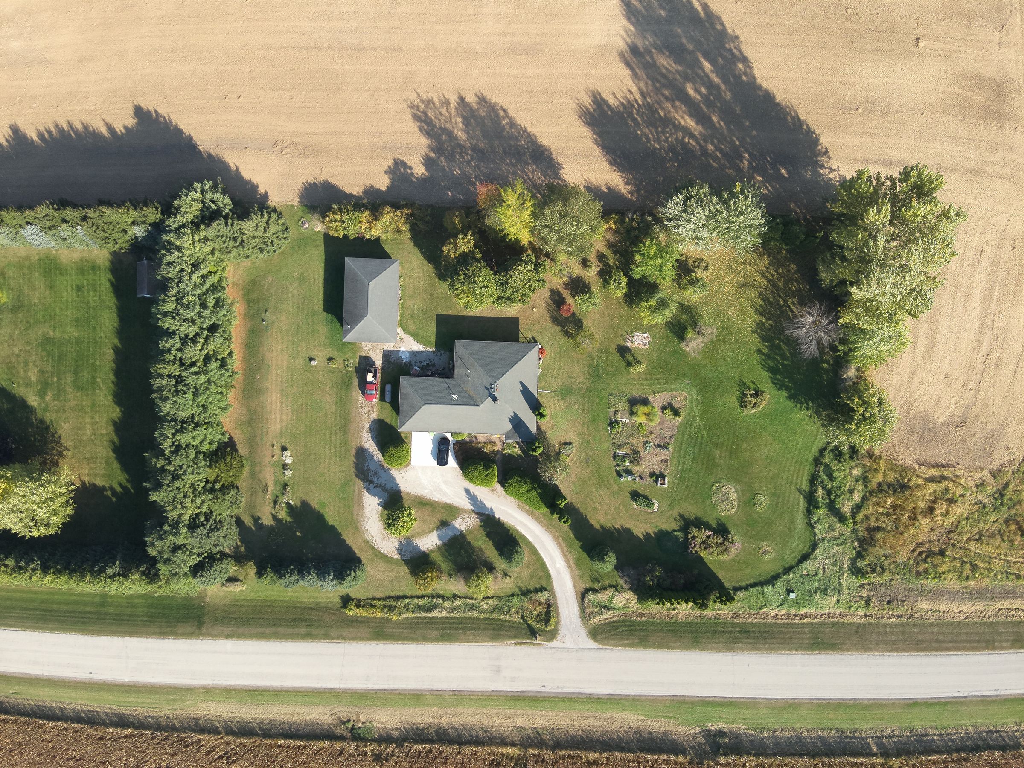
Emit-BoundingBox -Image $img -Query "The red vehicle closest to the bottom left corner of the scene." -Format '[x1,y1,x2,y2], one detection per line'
[364,366,379,403]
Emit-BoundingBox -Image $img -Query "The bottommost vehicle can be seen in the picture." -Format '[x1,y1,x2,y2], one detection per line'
[436,437,450,467]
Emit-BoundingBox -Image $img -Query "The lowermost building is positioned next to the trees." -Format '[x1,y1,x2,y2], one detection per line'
[398,340,551,443]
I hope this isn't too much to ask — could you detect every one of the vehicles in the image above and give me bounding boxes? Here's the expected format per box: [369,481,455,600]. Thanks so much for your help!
[436,437,450,467]
[364,366,379,403]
